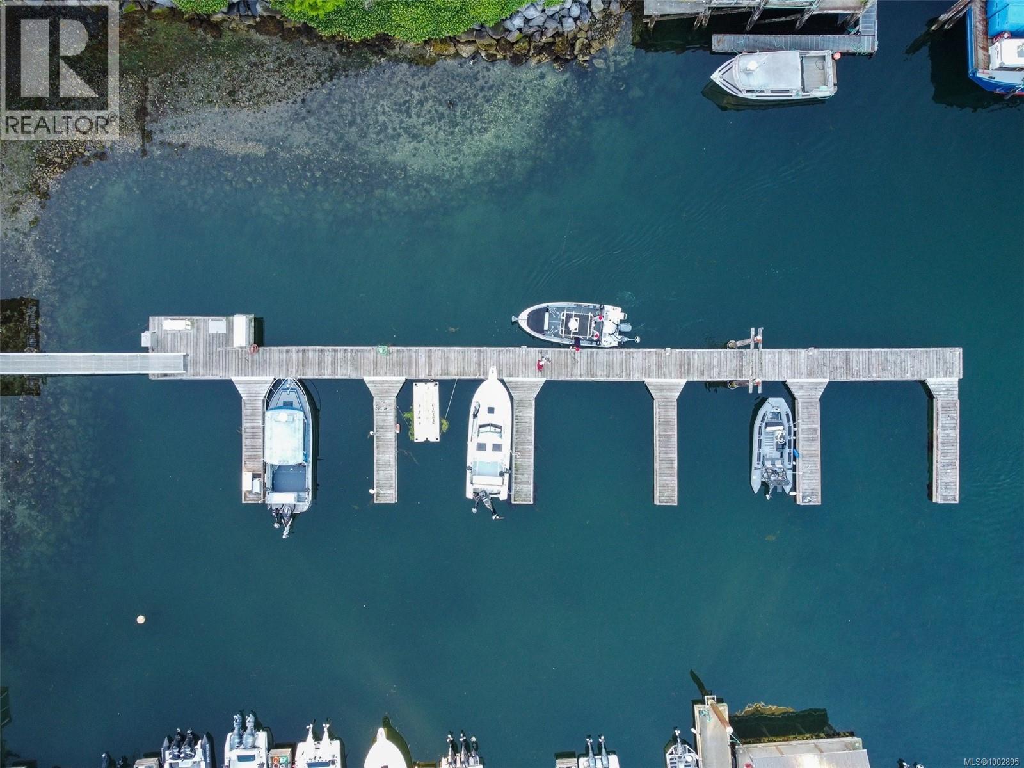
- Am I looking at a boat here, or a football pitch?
boat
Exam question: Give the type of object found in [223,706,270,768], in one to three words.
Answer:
boat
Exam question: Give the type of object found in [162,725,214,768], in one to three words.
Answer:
boat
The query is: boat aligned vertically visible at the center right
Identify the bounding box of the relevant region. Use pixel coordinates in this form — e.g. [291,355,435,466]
[752,397,793,497]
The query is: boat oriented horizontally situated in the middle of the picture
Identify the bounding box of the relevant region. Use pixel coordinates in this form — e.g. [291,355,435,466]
[511,302,637,347]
